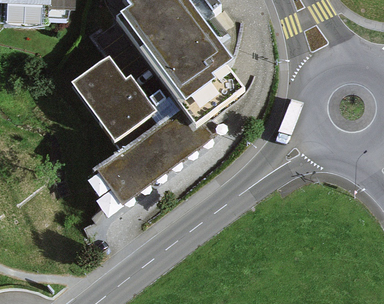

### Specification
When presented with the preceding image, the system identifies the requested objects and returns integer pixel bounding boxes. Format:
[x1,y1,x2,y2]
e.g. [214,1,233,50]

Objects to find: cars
[135,70,154,87]
[92,236,113,254]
